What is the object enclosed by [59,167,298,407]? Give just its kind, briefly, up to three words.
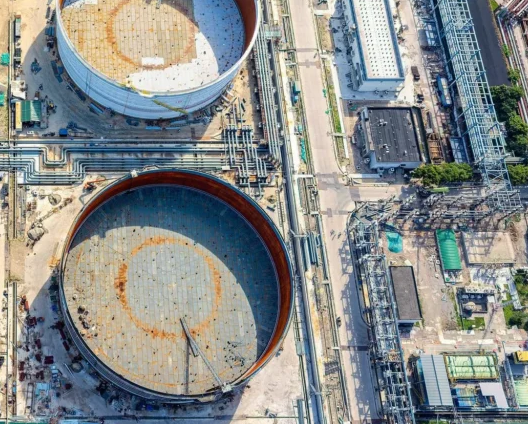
storage tank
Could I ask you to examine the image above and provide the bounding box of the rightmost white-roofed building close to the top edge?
[344,0,406,90]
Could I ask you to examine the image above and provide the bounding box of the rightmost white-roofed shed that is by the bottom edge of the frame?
[473,383,507,408]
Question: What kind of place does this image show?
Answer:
industrial area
